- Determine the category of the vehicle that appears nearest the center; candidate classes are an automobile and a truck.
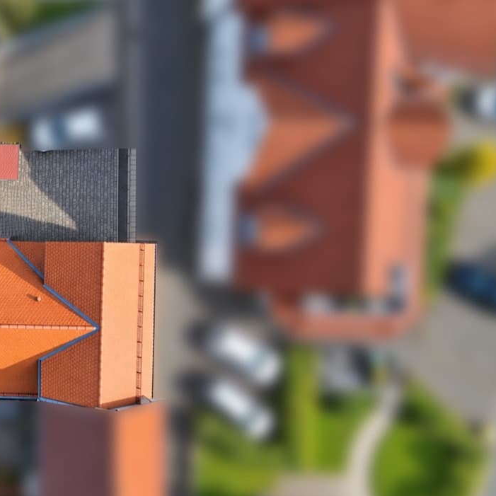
automobile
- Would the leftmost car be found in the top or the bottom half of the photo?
top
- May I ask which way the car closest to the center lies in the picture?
on a diagonal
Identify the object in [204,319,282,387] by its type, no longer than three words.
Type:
car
